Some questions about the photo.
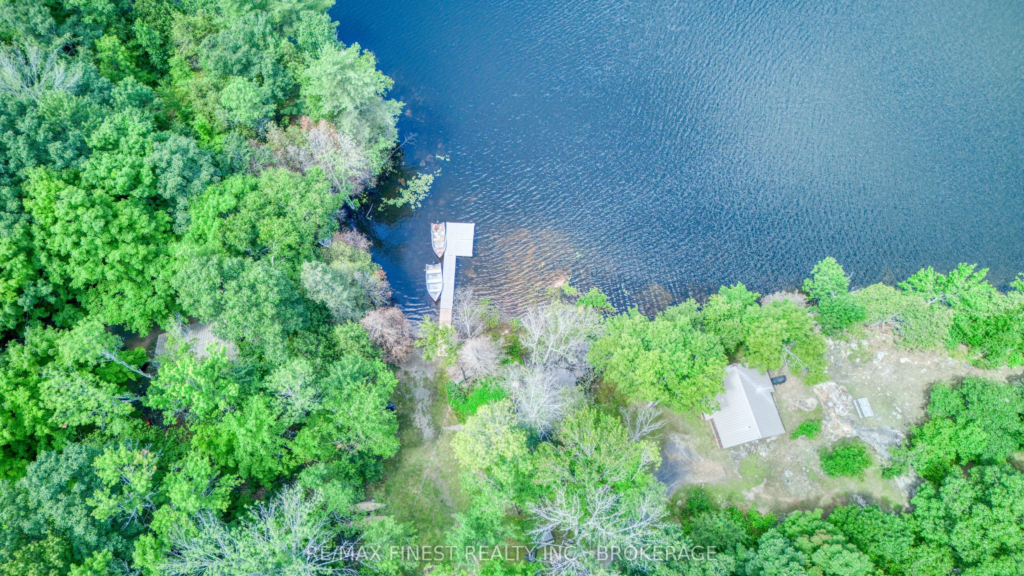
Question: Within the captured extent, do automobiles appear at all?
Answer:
No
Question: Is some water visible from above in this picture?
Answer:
Yes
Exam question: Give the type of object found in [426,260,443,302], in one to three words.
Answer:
boat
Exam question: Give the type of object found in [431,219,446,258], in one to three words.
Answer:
boat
